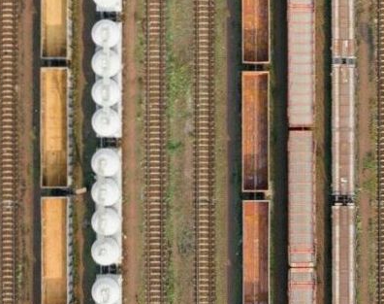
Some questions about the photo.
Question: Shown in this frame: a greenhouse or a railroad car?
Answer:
railroad car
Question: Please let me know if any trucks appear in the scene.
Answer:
No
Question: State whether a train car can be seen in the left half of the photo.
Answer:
Yes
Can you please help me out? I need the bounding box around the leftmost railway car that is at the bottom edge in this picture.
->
[41,193,73,304]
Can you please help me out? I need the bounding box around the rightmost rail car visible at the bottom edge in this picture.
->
[330,199,356,304]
